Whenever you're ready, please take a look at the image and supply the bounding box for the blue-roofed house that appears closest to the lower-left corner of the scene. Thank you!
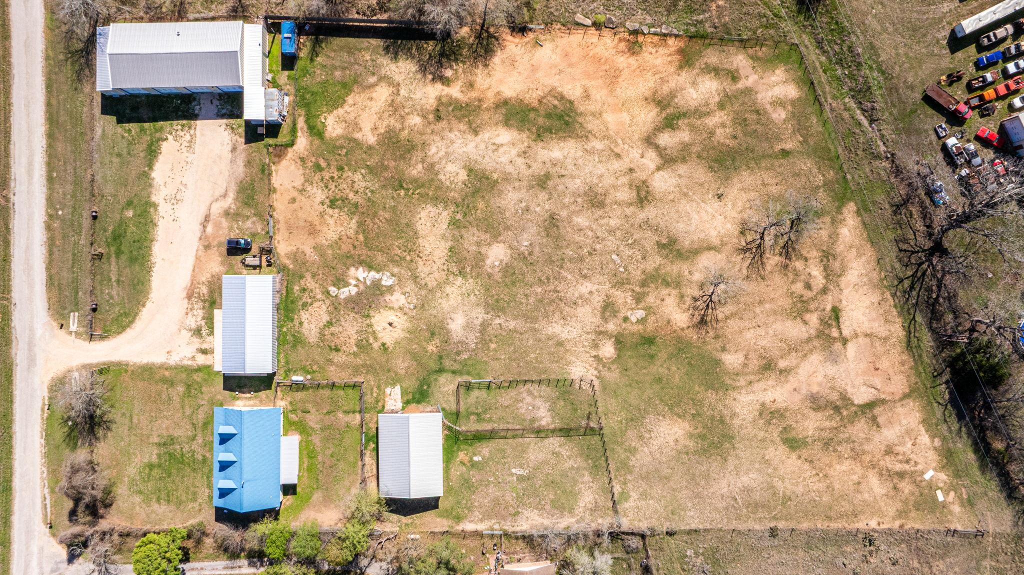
[212,405,298,512]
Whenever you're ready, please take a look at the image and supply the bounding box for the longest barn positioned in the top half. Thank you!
[95,21,268,122]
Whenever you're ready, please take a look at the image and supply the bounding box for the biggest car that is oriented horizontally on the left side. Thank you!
[225,238,251,250]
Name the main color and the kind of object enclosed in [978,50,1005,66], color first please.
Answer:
blue car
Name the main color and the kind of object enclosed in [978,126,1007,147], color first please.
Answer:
red car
